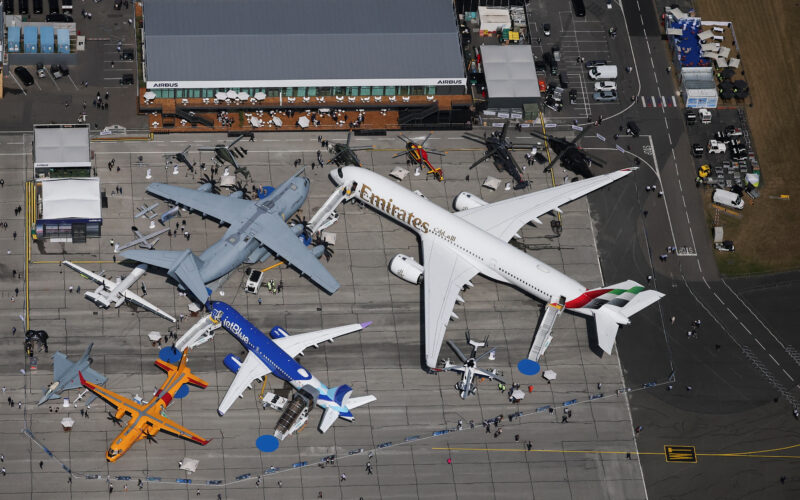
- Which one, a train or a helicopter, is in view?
helicopter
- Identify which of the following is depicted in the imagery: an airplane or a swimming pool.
airplane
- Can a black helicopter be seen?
Yes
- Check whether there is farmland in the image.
No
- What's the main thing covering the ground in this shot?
paved ground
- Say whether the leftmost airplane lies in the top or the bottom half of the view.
bottom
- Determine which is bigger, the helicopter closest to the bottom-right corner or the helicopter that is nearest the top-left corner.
the helicopter closest to the bottom-right corner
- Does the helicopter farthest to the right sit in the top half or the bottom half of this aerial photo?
top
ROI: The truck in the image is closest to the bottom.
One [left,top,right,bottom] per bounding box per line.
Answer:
[259,388,288,412]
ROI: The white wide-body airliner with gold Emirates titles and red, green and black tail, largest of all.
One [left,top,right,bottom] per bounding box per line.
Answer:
[329,169,668,373]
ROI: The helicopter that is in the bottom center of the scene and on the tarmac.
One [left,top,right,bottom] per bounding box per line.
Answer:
[434,331,505,398]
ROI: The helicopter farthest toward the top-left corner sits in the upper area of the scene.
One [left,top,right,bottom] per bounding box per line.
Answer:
[163,146,198,176]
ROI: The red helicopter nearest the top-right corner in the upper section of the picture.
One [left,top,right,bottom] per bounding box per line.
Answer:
[392,134,445,180]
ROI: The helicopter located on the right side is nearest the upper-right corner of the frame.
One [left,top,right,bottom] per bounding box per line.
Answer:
[534,127,608,188]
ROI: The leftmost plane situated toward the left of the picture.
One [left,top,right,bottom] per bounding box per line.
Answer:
[34,343,112,408]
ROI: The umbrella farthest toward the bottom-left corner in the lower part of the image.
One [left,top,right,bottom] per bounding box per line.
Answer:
[60,416,76,432]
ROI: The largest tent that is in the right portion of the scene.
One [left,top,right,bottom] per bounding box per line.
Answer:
[479,45,541,108]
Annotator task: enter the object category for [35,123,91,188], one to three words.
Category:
tent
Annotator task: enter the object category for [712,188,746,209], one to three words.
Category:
vehicle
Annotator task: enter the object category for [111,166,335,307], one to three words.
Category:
airplane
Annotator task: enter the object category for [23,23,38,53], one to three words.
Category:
building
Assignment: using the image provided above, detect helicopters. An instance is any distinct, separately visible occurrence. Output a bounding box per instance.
[197,135,259,184]
[434,331,505,398]
[320,131,377,177]
[534,127,608,188]
[392,134,445,180]
[464,120,542,187]
[163,146,198,176]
